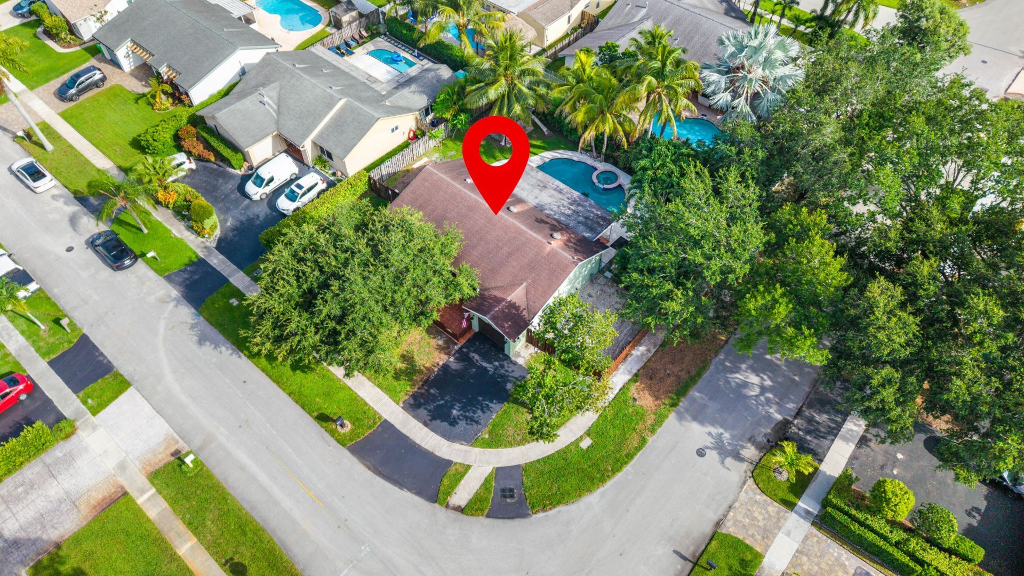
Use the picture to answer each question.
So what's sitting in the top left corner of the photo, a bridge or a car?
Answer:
car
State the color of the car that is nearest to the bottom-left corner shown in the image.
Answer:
red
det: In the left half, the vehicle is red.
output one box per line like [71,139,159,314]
[0,374,32,418]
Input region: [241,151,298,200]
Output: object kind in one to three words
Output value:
van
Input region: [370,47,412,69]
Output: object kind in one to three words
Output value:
swimming pool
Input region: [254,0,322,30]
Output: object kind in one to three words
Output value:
swimming pool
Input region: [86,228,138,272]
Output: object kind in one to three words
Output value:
car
